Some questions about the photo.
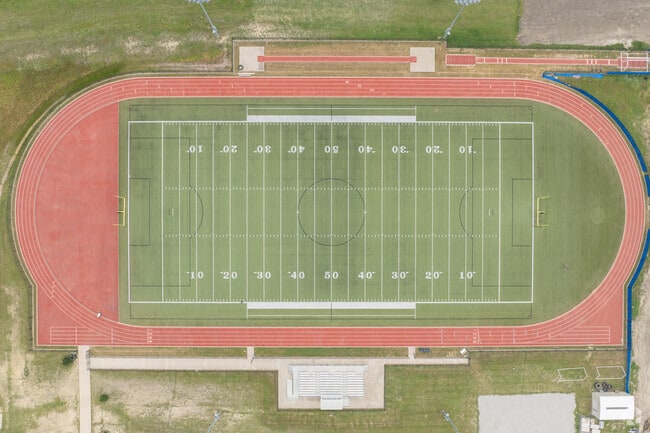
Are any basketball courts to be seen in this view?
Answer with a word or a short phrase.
No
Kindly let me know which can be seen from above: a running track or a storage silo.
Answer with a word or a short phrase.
running track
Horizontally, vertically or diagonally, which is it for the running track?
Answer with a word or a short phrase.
horizontally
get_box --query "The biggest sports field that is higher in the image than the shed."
[119,98,625,326]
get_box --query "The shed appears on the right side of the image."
[592,392,636,420]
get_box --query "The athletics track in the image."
[15,77,645,347]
